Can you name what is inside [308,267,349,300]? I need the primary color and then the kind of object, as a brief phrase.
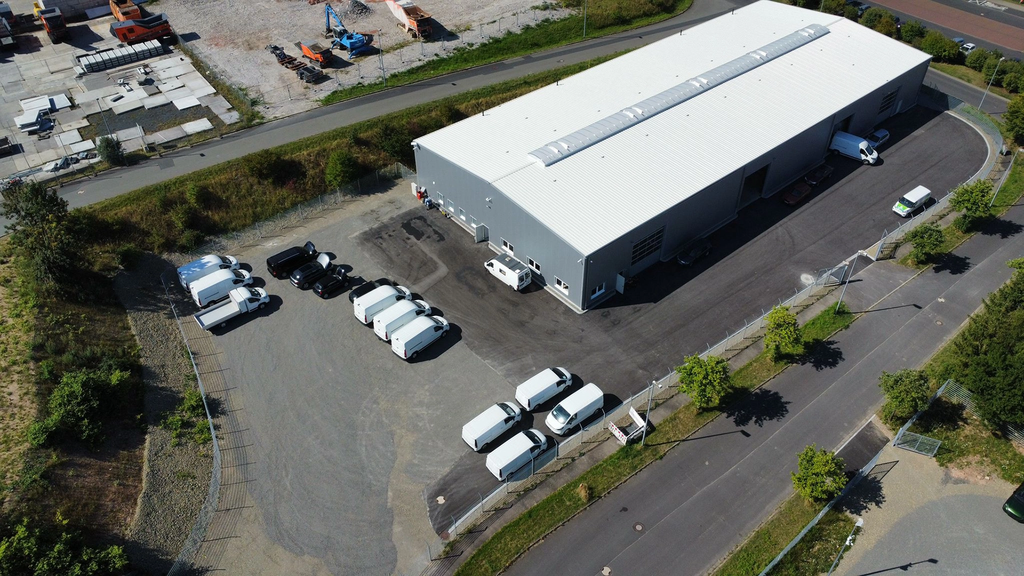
black car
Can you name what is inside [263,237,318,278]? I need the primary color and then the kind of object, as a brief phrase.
black van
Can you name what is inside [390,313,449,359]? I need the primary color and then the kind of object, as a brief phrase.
white van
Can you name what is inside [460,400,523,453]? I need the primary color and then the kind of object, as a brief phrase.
white van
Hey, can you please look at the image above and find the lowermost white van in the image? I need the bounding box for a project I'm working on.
[483,427,549,482]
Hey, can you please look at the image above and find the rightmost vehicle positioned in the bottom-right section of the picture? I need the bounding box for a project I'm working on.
[1002,483,1024,518]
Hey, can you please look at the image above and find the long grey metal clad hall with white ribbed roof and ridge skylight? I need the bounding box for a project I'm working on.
[412,0,935,316]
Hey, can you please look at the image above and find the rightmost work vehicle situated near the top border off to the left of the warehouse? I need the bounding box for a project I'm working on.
[321,0,380,60]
